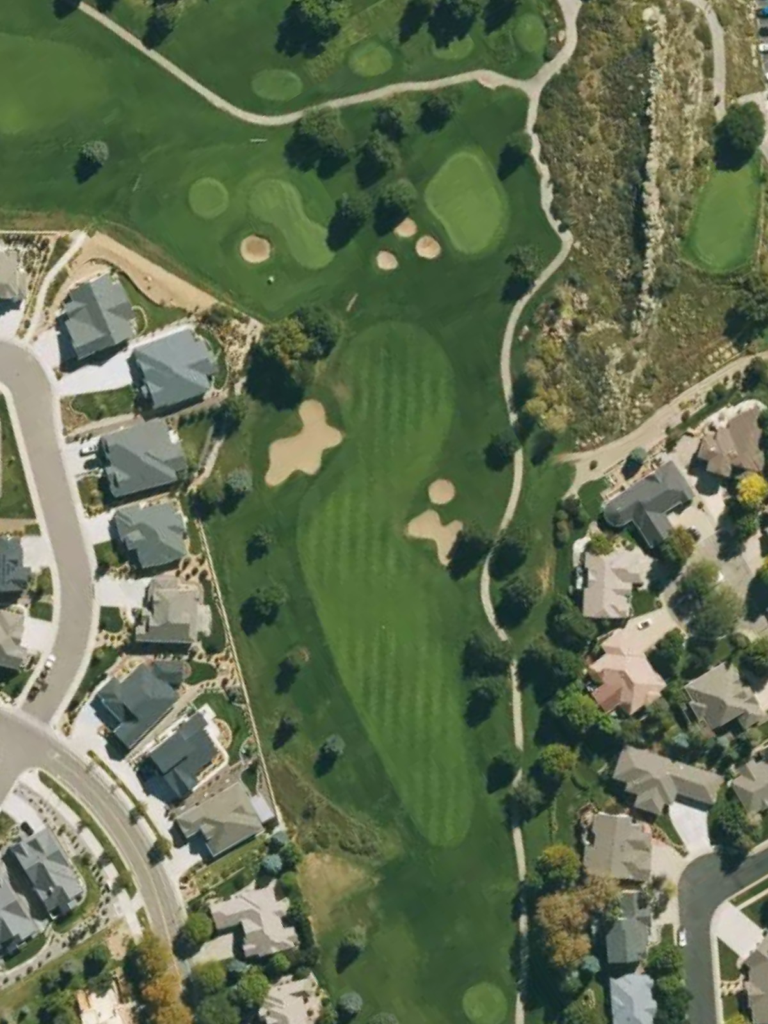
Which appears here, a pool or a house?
house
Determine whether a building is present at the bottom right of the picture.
Yes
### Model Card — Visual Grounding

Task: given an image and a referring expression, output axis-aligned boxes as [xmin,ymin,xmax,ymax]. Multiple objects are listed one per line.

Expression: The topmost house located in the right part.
[699,404,768,479]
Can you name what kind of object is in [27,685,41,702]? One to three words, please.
car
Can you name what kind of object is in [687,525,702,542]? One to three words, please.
car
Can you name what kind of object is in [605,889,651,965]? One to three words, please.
house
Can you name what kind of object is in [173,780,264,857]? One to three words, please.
house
